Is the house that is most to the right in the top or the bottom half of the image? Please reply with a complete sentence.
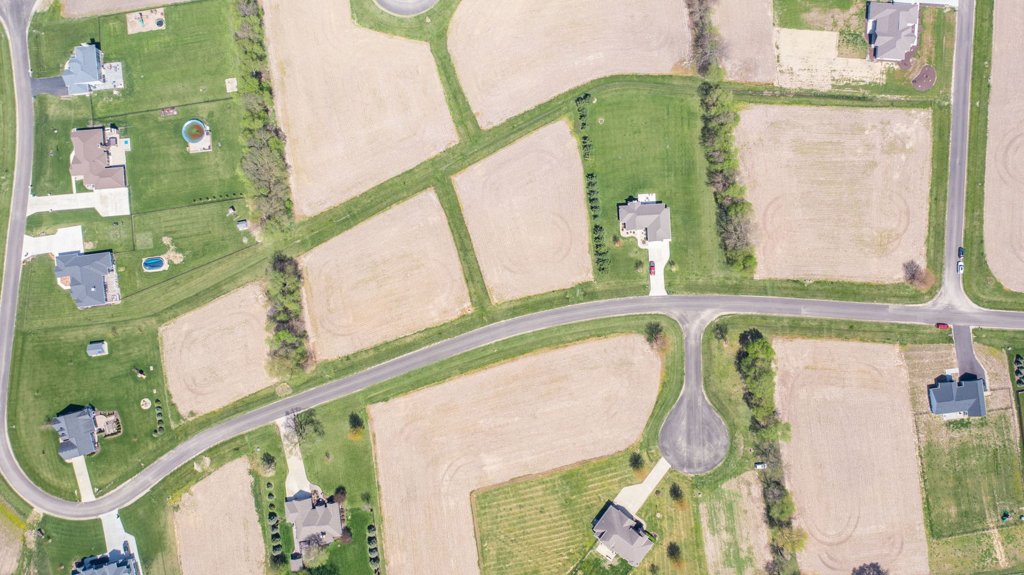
It is in the bottom half that the house that is most to the right appears.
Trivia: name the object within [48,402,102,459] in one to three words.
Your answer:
house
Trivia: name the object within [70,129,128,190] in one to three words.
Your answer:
house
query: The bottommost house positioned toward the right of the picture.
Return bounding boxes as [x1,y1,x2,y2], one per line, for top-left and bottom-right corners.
[594,504,653,569]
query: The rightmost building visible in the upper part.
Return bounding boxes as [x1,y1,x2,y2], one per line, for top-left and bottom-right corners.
[867,0,919,61]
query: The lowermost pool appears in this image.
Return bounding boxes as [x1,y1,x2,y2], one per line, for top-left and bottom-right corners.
[141,256,169,272]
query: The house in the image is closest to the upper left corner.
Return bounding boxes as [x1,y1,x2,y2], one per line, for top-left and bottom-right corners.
[63,41,105,95]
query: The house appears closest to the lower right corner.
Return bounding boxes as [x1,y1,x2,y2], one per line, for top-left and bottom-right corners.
[927,380,986,416]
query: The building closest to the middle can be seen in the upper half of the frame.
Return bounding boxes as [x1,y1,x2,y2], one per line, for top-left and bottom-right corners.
[618,202,671,242]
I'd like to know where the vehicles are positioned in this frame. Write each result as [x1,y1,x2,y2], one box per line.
[754,463,767,469]
[936,323,949,329]
[123,542,131,558]
[650,261,656,275]
[958,262,965,274]
[959,247,966,258]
